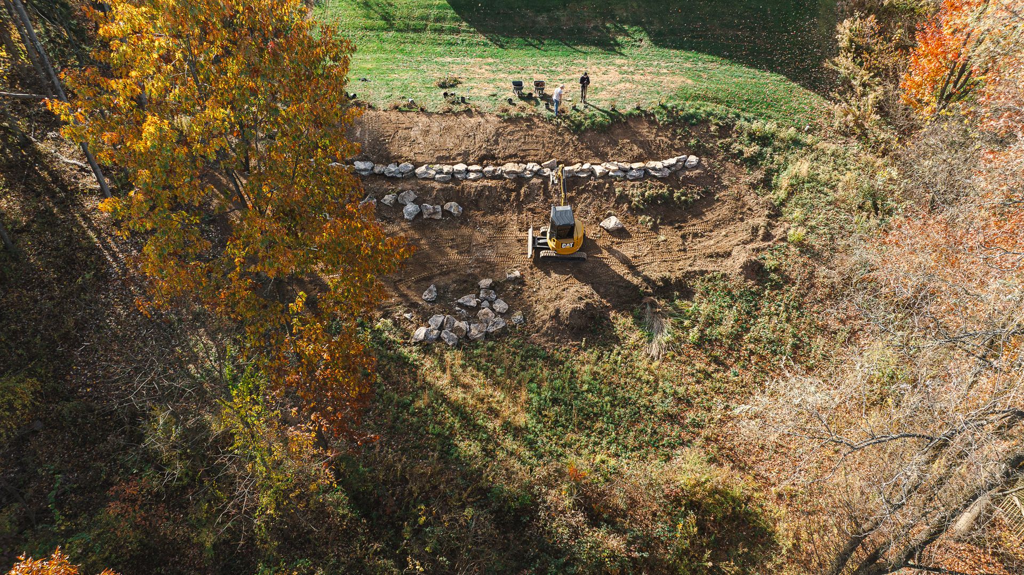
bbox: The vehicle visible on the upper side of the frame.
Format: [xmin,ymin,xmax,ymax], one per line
[526,156,588,260]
